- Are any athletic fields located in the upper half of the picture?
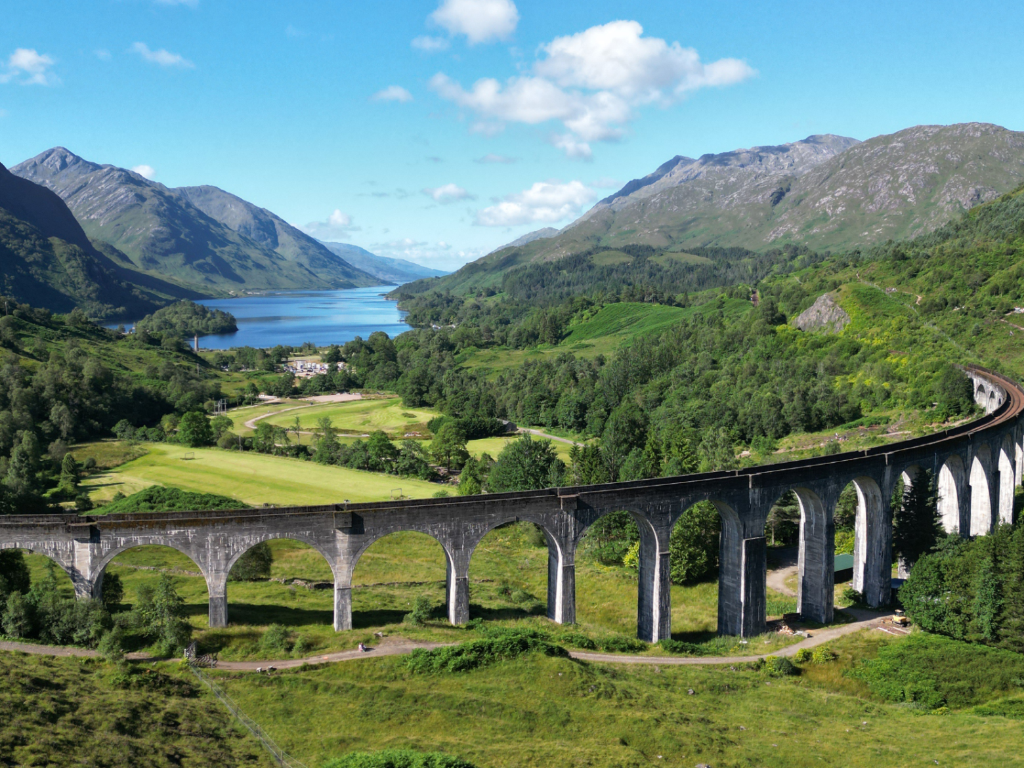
No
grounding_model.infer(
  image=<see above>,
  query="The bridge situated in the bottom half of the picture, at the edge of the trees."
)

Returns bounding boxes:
[0,360,1024,643]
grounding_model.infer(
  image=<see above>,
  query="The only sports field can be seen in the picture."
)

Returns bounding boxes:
[89,442,459,504]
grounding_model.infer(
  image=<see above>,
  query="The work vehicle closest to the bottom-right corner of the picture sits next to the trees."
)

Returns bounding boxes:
[891,613,914,631]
